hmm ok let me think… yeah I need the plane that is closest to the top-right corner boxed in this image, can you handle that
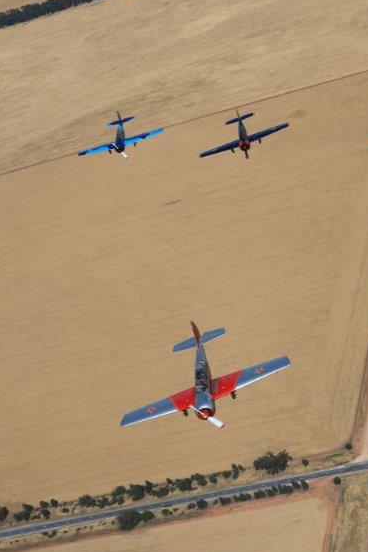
[199,107,289,157]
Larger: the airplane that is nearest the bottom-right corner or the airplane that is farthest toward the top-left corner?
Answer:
the airplane that is nearest the bottom-right corner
